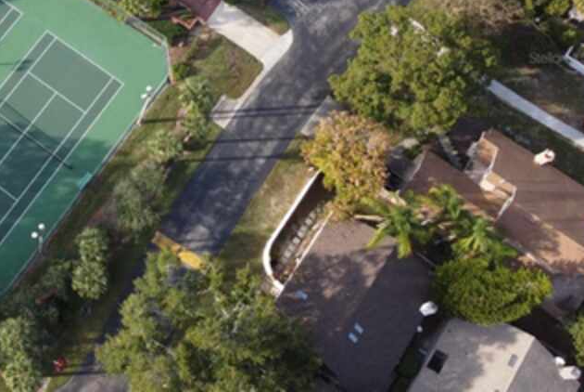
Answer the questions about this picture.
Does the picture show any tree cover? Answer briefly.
Yes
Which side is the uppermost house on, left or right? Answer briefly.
right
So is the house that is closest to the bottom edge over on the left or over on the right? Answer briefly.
right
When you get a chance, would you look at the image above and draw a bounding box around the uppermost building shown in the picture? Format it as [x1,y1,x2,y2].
[400,130,584,293]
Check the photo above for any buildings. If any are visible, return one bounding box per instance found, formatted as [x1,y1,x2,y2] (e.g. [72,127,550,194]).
[400,130,584,293]
[404,317,582,392]
[253,213,435,392]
